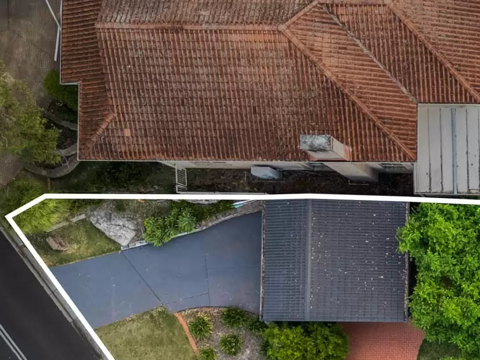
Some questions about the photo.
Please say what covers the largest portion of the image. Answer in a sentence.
The bulk of the photo consists of buildings.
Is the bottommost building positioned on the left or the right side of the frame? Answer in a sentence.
The bottommost building is on the right side of the image.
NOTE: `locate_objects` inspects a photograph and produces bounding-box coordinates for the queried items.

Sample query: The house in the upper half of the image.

[60,0,480,189]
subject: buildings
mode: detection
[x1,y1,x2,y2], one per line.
[258,196,411,322]
[60,0,480,189]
